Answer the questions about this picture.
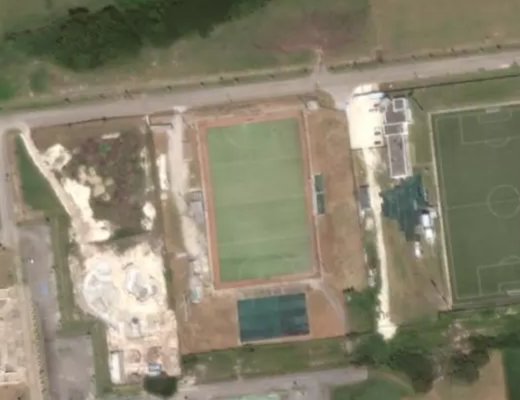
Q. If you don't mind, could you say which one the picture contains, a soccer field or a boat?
soccer field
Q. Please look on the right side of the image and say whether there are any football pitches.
Yes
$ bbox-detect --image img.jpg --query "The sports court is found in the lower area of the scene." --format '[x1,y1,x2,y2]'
[238,292,309,343]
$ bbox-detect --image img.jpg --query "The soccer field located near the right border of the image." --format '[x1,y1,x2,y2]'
[432,104,520,305]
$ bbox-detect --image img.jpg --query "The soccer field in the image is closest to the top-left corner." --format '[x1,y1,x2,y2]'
[199,110,318,289]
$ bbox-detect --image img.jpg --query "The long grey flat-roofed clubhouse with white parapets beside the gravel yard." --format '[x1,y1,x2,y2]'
[384,96,413,178]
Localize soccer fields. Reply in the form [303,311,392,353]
[432,104,520,305]
[199,110,318,289]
